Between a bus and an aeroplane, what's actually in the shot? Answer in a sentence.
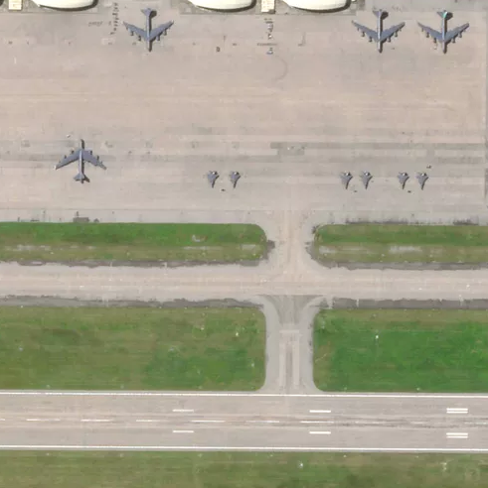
This aerial view contains an aeroplane.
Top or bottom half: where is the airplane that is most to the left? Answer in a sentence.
Seen from above, the airplane that is most to the left lies in the top half of the view.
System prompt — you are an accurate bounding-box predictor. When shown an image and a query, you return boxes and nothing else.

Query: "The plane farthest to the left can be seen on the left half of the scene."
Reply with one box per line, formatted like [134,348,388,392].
[56,140,107,183]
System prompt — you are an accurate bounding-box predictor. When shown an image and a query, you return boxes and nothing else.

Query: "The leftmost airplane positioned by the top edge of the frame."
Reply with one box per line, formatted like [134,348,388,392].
[123,7,175,51]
